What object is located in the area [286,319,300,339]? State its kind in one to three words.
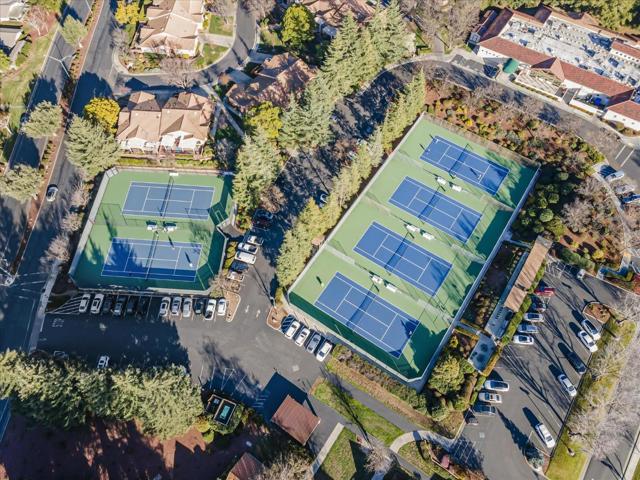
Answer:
car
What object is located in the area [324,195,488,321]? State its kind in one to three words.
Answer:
tennis court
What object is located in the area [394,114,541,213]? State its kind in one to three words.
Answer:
tennis court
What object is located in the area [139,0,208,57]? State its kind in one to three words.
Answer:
house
